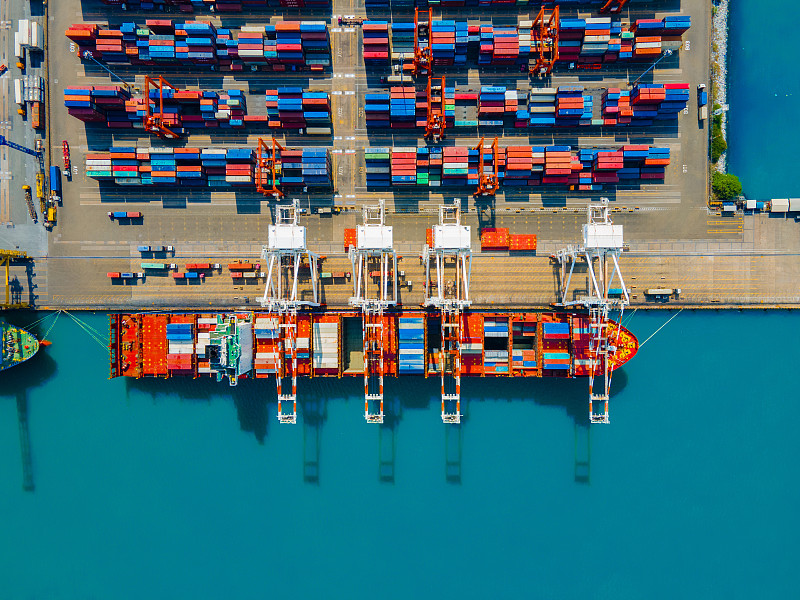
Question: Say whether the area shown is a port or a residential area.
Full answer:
This looks like a port.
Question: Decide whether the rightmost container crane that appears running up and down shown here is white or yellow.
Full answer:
The color of the rightmost container crane that appears running up and down is white.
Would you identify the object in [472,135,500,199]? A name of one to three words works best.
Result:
crane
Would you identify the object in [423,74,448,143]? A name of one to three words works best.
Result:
crane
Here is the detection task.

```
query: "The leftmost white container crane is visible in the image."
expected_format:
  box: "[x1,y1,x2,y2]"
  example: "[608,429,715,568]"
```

[255,199,323,423]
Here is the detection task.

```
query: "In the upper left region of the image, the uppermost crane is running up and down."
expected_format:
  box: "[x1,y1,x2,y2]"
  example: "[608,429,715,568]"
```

[144,74,181,143]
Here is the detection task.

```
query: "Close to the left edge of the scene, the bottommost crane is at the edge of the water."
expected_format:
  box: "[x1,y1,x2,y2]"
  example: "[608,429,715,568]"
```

[0,250,38,308]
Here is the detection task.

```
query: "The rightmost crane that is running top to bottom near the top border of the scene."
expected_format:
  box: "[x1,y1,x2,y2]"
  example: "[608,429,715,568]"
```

[528,4,559,77]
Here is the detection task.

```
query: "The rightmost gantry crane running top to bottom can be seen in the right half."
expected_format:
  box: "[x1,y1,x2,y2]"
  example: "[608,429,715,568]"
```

[550,198,633,423]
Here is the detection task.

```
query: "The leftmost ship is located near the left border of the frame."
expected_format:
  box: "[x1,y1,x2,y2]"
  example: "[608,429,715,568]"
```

[0,320,52,371]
